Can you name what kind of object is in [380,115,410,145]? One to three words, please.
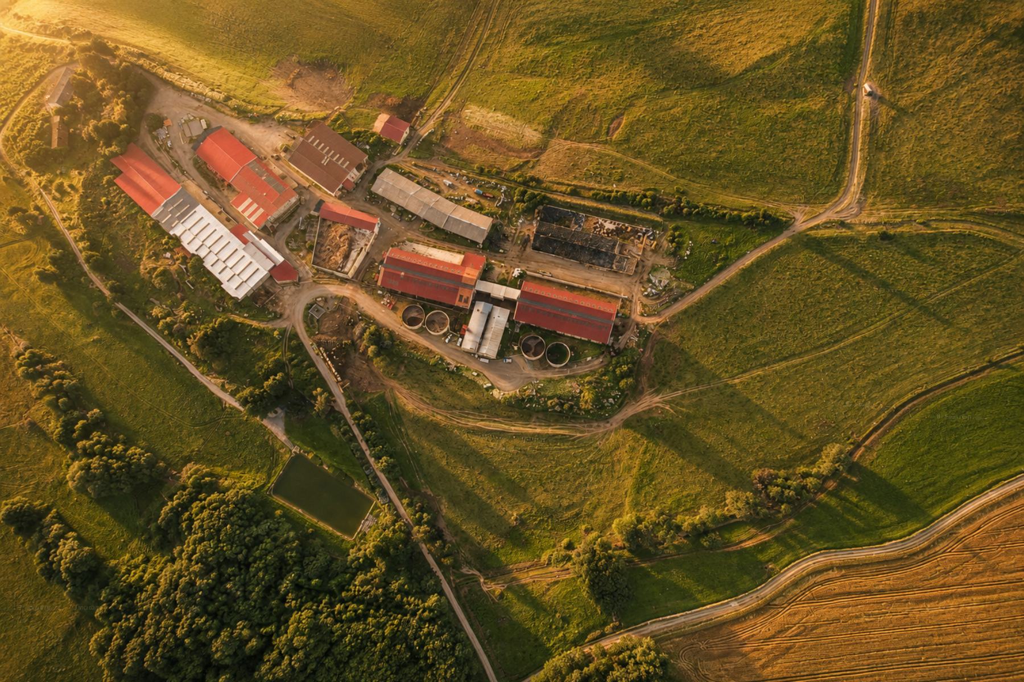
house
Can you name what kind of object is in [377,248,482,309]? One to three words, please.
barn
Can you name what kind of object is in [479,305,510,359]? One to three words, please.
shed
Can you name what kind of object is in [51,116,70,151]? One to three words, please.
building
